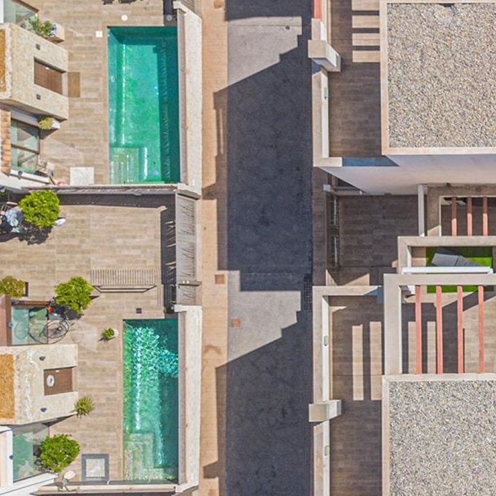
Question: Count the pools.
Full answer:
Looking from above, you can make out 2 pools.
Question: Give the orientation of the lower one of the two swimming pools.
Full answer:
The lower one of the two swimming pools has been laid out from top to bottom relative to the frame.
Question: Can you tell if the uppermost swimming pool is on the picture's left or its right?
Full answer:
It is on the left.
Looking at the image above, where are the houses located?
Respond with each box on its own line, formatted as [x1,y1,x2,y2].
[307,238,496,496]
[307,0,496,191]
[0,299,77,487]
[0,0,68,176]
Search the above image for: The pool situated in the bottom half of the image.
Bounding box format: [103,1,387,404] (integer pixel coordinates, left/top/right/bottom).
[120,316,177,478]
